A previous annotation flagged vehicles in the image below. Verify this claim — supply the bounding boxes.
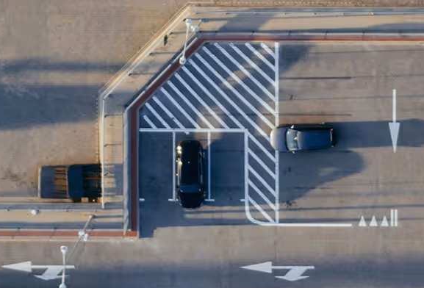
[272,124,337,156]
[37,163,105,203]
[175,138,208,208]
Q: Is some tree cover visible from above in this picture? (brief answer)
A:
No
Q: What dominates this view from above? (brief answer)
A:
paved ground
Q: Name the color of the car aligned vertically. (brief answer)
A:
black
